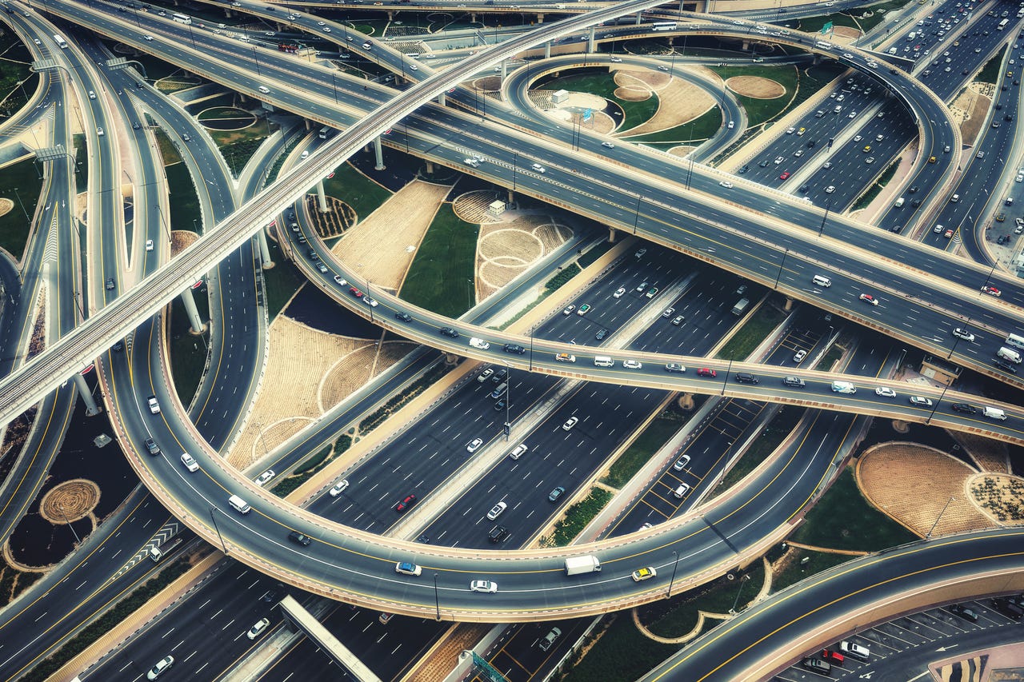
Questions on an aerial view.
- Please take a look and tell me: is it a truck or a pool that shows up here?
truck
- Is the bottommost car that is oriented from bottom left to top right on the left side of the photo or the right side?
left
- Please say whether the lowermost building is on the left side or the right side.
right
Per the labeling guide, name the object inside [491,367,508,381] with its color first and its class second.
black car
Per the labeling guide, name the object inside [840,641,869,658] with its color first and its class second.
white car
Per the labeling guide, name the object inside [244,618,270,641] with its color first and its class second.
white car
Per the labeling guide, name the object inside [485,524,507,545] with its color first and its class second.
black truck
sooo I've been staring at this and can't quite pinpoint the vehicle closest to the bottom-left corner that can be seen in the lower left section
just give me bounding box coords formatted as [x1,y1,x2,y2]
[145,654,175,681]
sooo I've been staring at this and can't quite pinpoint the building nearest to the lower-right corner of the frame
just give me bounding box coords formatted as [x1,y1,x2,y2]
[918,354,966,391]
